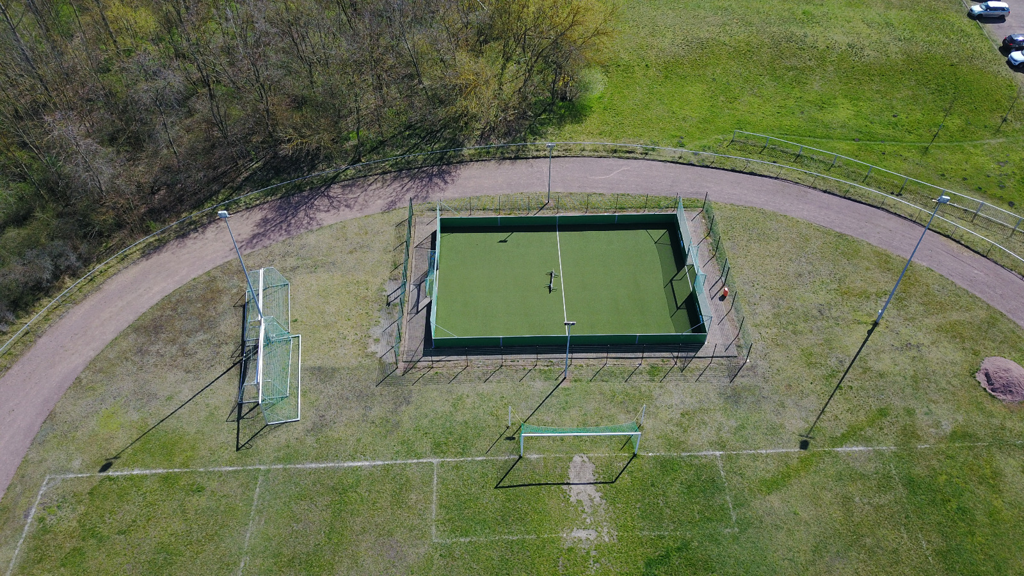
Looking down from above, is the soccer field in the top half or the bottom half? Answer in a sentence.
The bottom half of the photo is where the soccer field is.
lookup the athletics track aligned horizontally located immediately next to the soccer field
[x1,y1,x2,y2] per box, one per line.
[0,156,1024,492]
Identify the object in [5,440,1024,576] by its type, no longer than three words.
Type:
soccer field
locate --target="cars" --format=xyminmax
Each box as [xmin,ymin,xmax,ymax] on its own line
[1001,28,1024,47]
[1008,46,1024,65]
[966,2,1013,22]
